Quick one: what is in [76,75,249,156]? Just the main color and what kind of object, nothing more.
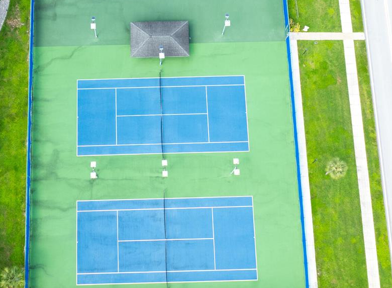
blue tennis court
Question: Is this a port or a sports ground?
sports ground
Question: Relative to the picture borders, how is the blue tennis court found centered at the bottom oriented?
horizontally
